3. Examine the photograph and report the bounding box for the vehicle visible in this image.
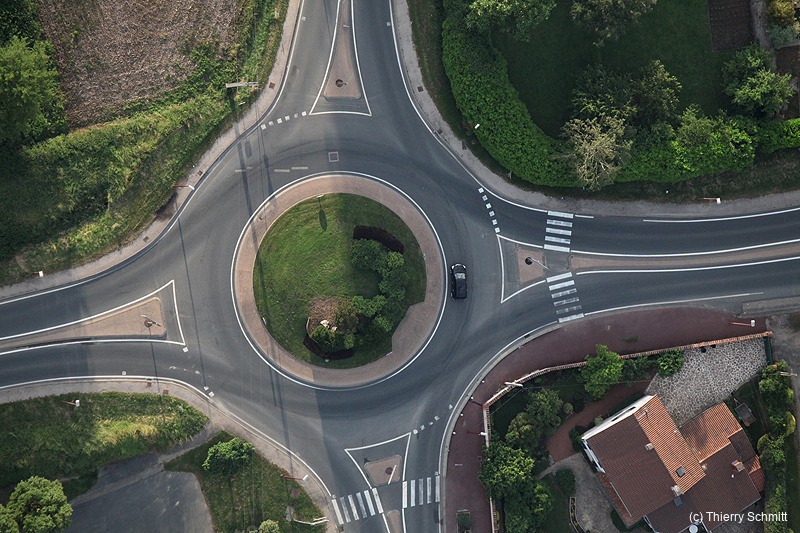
[452,264,470,299]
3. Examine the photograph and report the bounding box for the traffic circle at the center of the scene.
[172,111,505,450]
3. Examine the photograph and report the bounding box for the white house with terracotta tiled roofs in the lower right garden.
[584,393,764,533]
